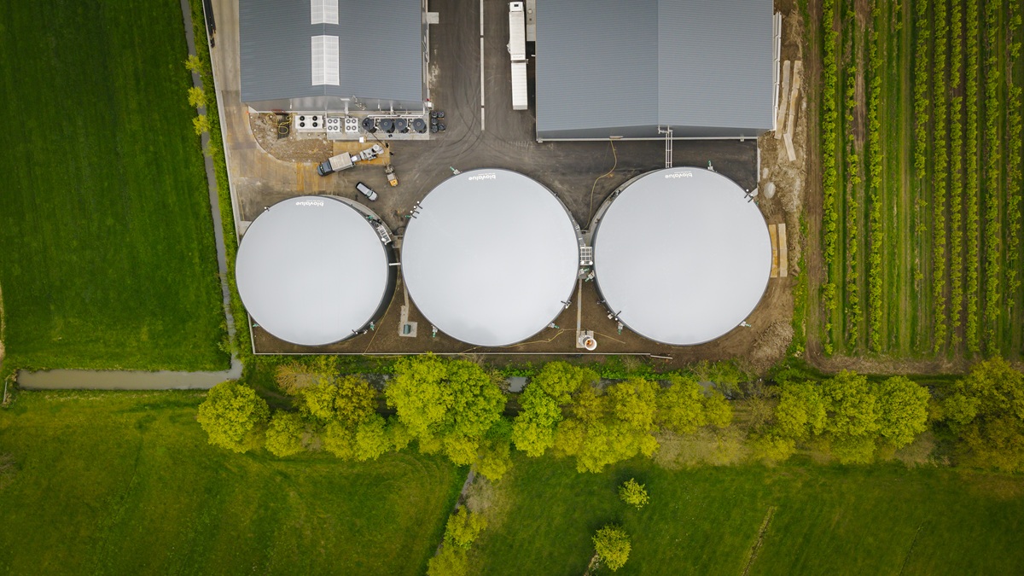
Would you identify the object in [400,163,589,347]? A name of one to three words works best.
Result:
storage tank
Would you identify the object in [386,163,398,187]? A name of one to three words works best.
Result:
vehicle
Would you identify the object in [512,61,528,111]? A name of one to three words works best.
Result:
trailer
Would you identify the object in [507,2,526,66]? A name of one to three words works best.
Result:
vehicle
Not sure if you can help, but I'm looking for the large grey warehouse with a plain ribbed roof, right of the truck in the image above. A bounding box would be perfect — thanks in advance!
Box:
[528,0,781,143]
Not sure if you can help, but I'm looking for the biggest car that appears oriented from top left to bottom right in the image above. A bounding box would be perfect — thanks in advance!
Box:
[355,180,379,203]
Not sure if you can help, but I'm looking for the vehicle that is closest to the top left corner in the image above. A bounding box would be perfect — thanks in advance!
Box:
[314,148,353,173]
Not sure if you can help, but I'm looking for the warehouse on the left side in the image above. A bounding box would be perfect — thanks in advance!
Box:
[240,0,426,114]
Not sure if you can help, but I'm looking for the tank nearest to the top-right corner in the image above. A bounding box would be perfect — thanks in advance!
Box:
[585,160,772,346]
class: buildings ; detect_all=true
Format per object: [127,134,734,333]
[528,0,781,143]
[240,0,426,114]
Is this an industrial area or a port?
industrial area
